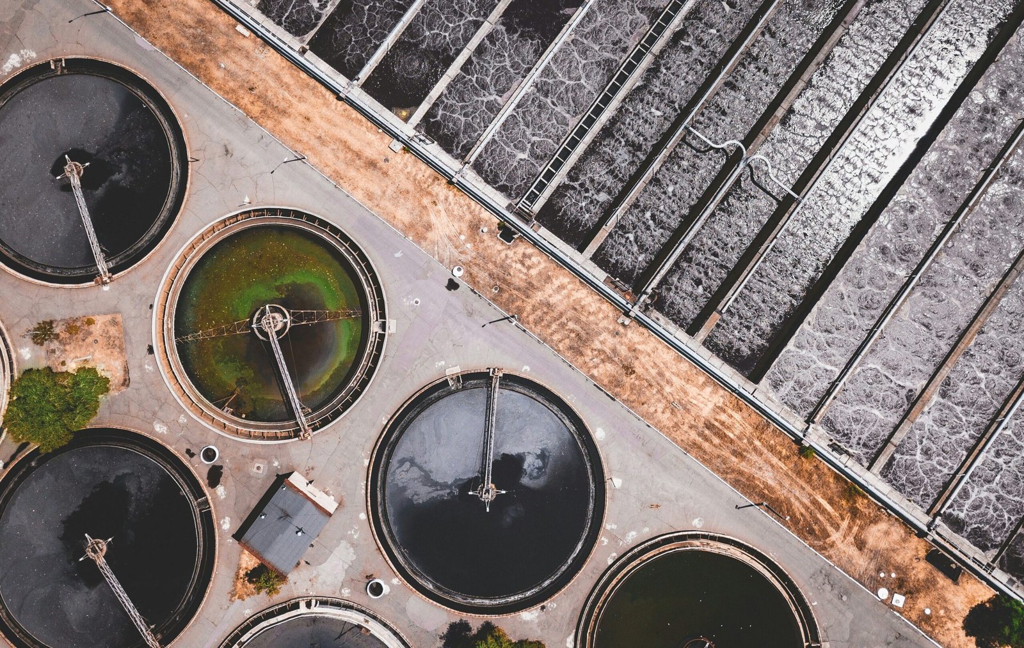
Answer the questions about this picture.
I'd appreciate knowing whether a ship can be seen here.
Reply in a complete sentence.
No, there isn't any ship down there.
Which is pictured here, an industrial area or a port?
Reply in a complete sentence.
What you see here is an industrial area.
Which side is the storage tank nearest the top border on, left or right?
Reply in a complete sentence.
It is on the left.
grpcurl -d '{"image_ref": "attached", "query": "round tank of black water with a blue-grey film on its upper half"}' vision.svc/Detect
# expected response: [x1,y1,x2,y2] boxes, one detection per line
[362,368,610,614]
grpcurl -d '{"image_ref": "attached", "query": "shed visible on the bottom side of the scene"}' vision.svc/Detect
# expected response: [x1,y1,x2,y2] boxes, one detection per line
[238,468,341,577]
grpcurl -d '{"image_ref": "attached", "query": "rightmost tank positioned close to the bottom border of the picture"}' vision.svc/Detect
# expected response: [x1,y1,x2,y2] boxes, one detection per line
[576,531,822,648]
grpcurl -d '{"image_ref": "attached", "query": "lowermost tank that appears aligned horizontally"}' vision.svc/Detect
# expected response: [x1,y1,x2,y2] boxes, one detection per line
[219,596,413,648]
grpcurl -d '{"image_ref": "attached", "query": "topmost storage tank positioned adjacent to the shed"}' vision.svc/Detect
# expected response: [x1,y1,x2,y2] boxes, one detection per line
[151,207,398,444]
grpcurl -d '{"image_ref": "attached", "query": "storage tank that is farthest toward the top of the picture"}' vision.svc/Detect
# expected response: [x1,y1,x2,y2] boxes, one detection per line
[0,54,192,288]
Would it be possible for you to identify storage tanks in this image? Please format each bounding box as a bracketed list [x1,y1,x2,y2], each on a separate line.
[0,435,217,648]
[576,531,822,648]
[0,54,192,288]
[219,596,413,648]
[151,207,398,444]
[362,368,610,614]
